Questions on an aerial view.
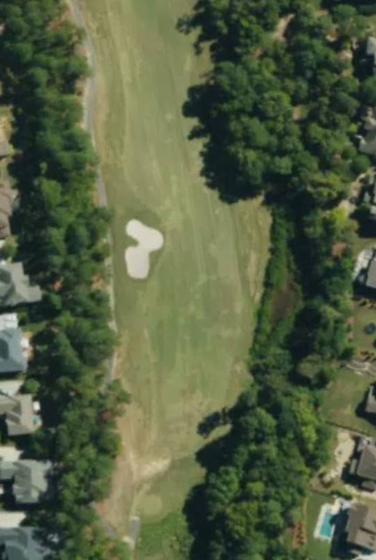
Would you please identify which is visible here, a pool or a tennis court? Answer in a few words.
pool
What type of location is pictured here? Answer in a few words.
golf course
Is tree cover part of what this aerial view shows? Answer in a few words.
Yes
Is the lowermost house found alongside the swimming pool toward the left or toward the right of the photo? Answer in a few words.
right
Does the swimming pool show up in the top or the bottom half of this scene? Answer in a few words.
bottom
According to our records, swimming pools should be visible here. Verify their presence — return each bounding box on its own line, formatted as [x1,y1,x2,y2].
[314,498,343,543]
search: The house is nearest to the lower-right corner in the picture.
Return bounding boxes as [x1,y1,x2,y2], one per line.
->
[343,502,376,552]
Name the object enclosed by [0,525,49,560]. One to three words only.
house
